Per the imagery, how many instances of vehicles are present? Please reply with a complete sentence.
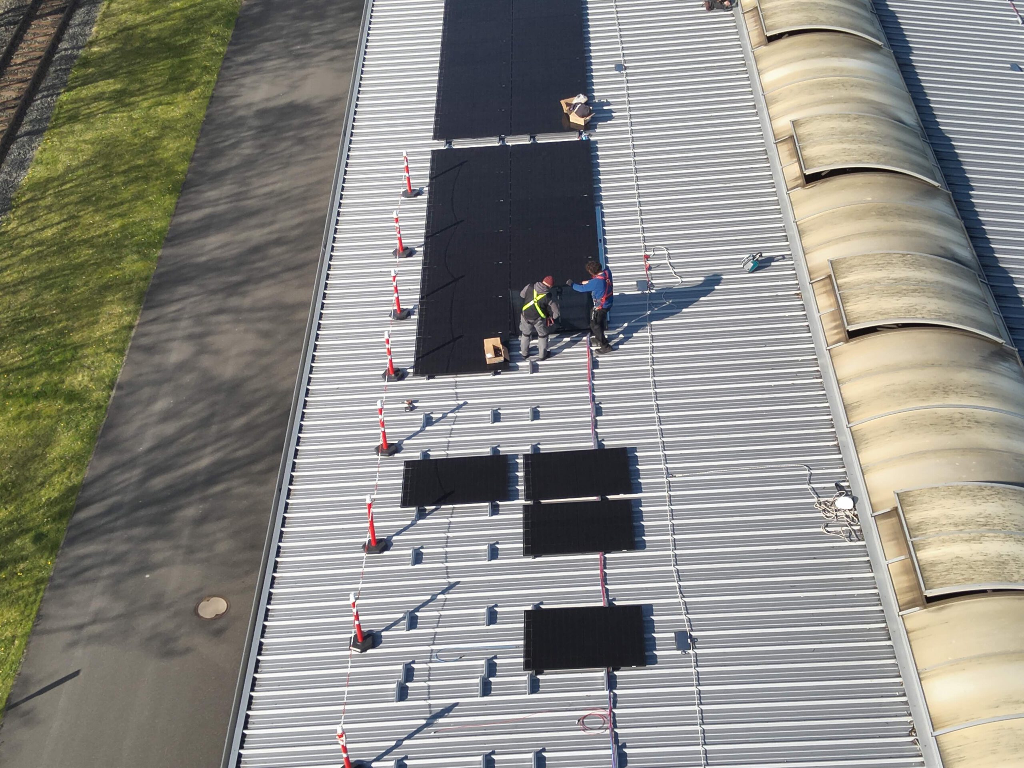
The photo contains no vehicles.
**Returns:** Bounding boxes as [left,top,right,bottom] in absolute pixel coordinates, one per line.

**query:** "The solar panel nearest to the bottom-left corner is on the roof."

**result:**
[399,456,506,512]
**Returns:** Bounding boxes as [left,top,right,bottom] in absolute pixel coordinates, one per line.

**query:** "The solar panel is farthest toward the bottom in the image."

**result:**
[524,606,645,671]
